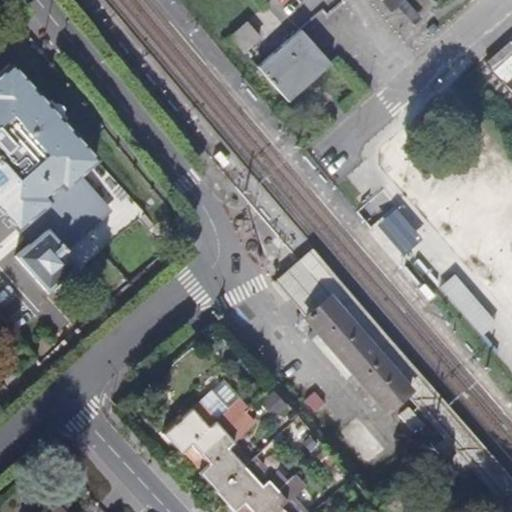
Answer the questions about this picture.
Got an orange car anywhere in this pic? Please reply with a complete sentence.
No, there is no orange car in the image.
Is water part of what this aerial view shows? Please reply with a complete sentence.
No, there is no water in the image.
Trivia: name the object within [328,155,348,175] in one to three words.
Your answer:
car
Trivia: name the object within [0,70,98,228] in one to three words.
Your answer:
building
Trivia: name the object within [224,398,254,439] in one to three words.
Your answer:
house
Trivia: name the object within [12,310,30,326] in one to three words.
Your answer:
car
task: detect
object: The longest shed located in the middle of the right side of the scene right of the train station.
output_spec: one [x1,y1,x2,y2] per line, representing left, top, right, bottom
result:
[440,274,494,334]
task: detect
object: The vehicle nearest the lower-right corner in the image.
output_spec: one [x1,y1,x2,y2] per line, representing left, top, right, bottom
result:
[284,360,302,376]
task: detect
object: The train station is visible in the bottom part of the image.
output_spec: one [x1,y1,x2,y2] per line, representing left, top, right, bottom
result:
[305,294,416,416]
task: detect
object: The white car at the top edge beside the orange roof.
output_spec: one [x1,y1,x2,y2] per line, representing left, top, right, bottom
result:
[282,2,298,18]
